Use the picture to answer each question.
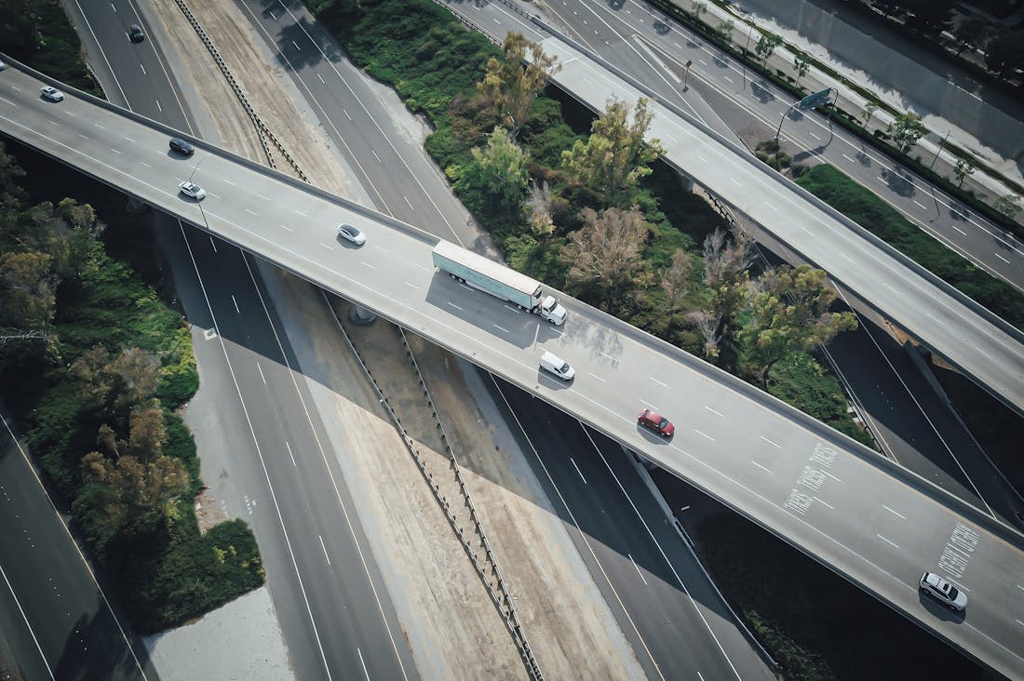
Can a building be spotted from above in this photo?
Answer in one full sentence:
No, there is no building in the image.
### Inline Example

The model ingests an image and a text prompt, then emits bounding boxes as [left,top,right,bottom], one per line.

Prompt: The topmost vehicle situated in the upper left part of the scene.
[129,23,144,39]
